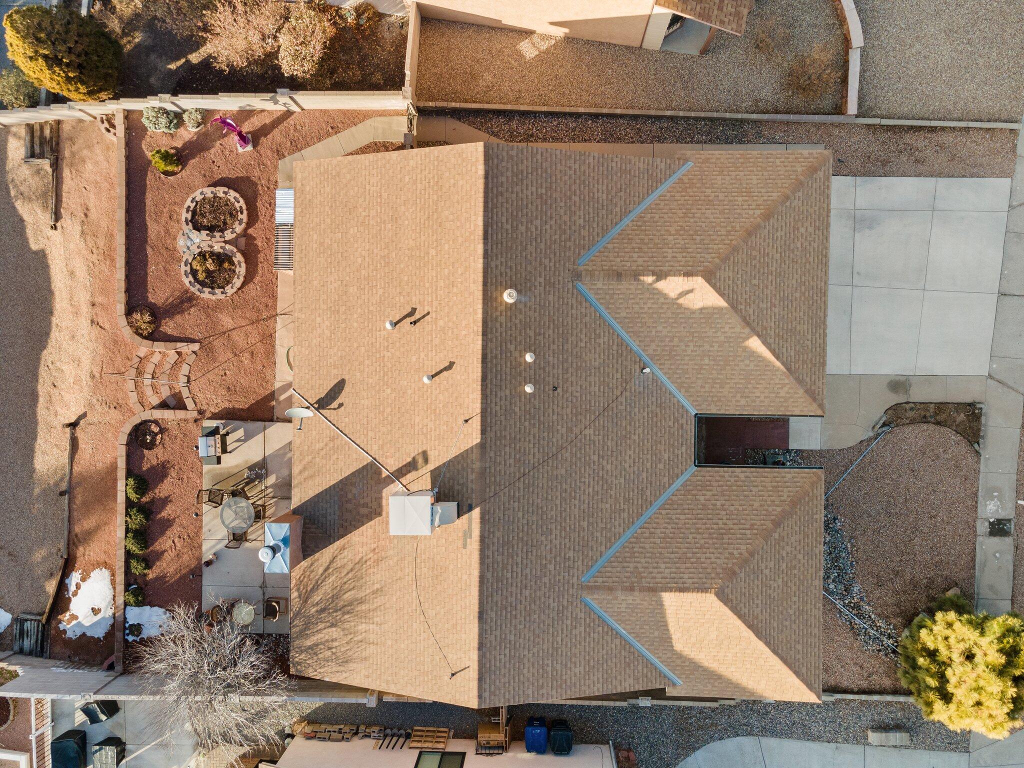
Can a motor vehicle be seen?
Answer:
No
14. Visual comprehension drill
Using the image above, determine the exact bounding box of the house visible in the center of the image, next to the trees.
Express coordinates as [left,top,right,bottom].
[263,140,835,709]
